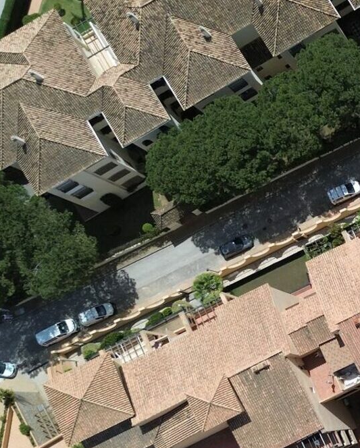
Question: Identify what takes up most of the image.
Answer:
buildings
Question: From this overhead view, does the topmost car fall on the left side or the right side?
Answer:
right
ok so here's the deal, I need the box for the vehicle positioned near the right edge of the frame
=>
[325,180,360,204]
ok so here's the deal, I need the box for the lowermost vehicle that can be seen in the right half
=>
[217,234,255,259]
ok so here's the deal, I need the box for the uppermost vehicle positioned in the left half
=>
[78,303,116,326]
